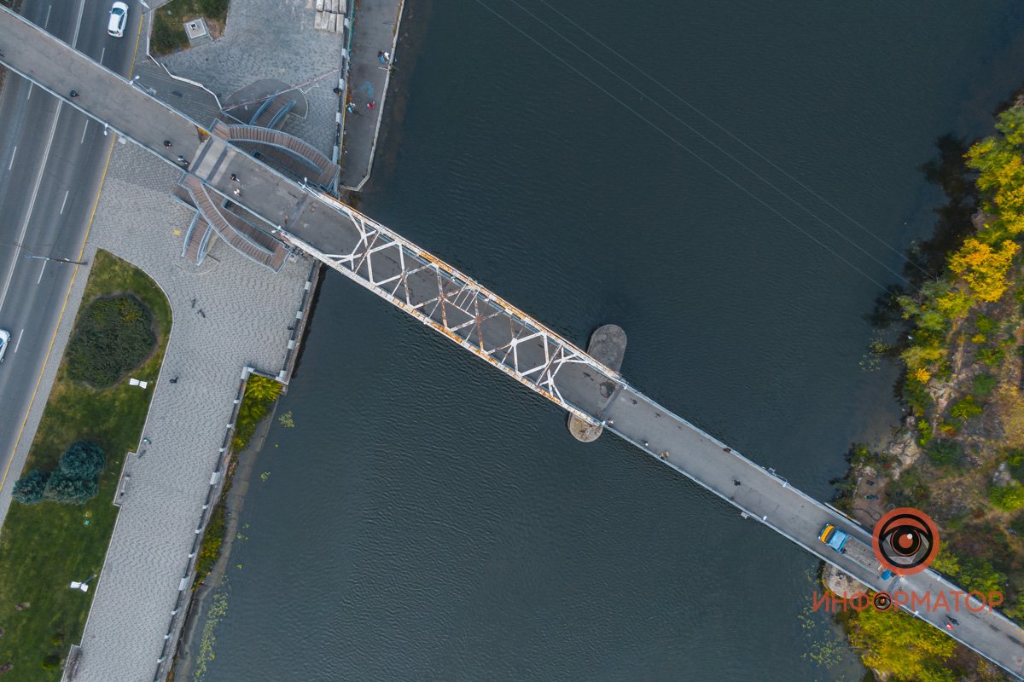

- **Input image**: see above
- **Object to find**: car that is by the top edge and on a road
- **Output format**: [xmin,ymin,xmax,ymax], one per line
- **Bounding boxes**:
[107,1,130,38]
